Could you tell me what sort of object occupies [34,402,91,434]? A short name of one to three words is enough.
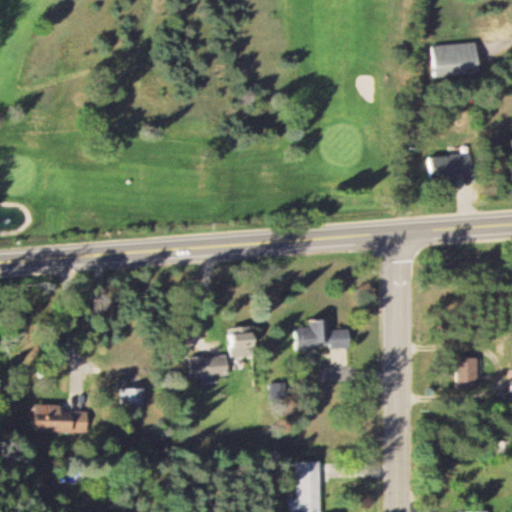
house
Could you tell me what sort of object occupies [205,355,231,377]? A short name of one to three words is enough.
building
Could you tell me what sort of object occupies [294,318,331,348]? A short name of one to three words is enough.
house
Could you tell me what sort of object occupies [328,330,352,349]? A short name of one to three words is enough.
building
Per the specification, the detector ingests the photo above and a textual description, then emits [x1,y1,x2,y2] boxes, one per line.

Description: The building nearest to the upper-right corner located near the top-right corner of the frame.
[432,42,482,80]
